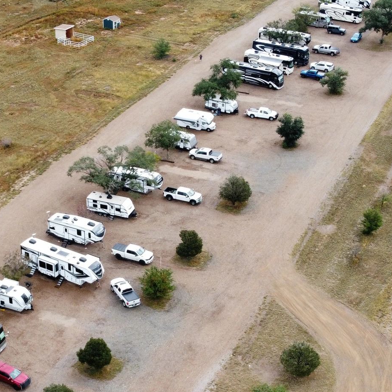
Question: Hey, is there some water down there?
No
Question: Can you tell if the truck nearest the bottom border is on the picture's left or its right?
left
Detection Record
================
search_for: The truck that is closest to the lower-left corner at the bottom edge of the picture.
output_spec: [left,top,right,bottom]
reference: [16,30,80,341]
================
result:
[0,359,33,391]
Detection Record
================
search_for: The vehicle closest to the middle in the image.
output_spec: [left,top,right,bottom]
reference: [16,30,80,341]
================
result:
[163,185,203,206]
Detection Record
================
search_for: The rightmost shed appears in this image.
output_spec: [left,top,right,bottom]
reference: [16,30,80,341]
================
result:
[99,12,125,30]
